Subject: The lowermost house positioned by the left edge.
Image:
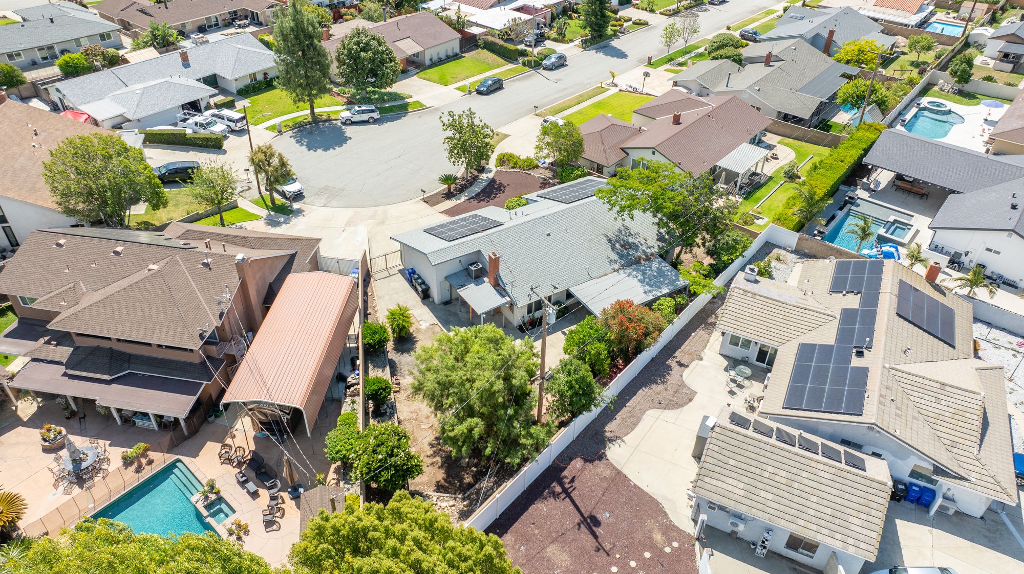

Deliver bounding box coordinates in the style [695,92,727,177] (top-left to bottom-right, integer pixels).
[0,217,335,442]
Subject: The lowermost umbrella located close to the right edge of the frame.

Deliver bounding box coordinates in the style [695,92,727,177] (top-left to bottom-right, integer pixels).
[978,98,1005,120]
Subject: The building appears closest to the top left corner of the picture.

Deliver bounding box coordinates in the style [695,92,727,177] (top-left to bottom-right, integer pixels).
[0,0,123,69]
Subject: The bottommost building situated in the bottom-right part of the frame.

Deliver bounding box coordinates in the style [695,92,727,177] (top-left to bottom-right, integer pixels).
[693,406,891,574]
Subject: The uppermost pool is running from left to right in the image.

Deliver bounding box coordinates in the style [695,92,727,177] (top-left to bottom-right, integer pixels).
[923,20,963,36]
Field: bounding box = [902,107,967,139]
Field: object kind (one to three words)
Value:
swimming pool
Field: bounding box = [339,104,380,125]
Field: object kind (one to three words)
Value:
car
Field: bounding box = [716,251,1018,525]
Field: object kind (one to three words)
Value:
house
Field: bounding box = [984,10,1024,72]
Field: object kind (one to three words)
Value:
house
